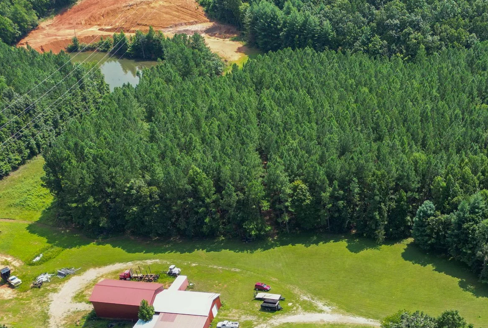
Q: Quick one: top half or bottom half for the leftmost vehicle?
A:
bottom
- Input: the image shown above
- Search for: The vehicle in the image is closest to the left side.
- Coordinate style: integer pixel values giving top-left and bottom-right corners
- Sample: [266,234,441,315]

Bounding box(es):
[0,268,21,288]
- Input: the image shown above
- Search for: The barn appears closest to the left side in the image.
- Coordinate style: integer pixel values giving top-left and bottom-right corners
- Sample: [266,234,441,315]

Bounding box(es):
[90,279,165,319]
